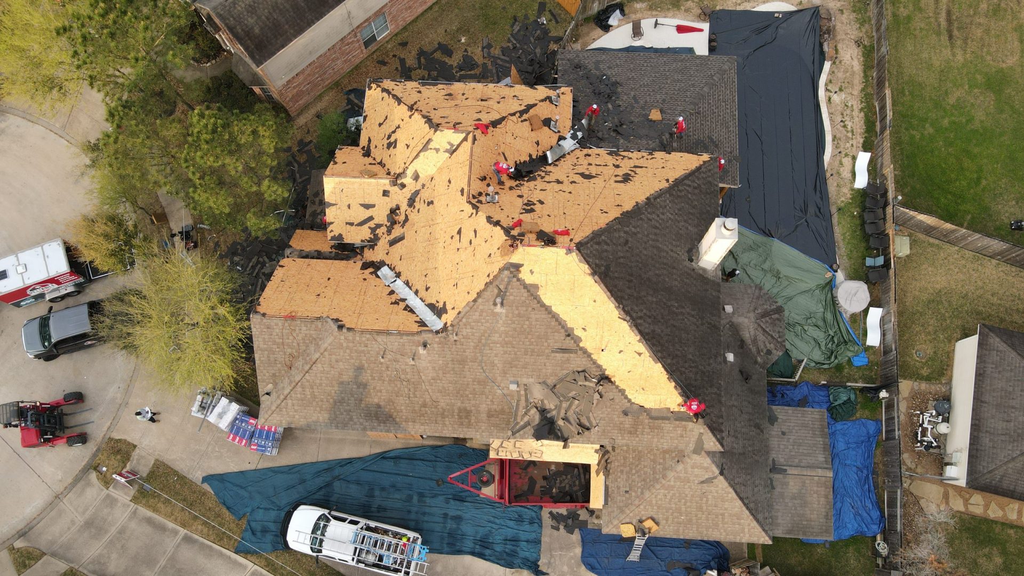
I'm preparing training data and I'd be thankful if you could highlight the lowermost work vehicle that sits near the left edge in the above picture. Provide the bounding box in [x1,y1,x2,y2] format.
[0,389,95,448]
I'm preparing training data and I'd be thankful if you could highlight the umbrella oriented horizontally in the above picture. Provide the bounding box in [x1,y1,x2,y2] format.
[654,19,704,32]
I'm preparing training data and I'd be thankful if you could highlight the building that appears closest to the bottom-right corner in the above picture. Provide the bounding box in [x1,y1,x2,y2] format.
[943,318,1024,504]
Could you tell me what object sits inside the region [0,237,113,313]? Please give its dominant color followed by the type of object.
white trailer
